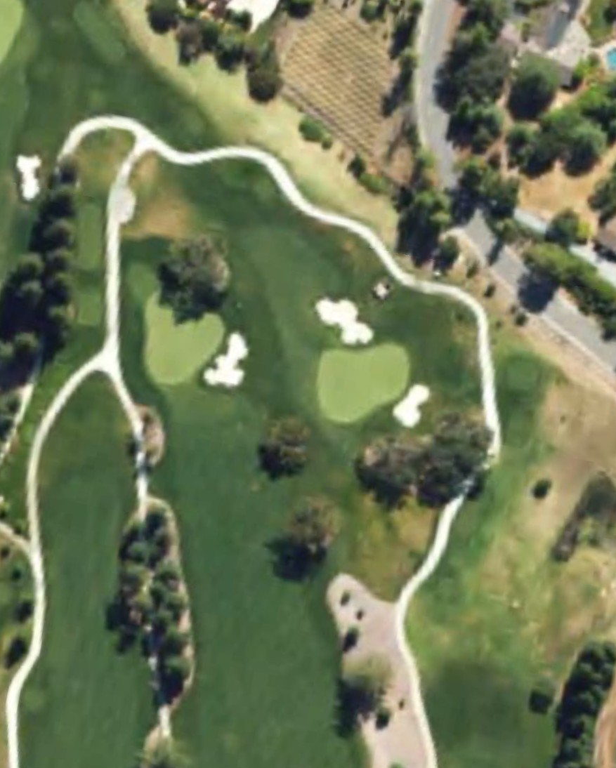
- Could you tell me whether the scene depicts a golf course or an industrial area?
golf course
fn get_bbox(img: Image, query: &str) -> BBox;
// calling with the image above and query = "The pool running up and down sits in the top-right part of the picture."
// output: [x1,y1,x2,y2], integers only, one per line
[602,41,616,75]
